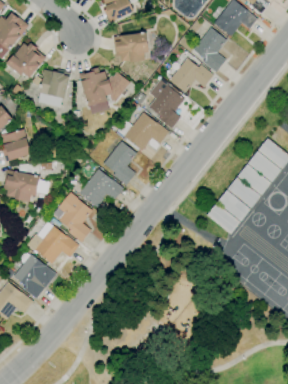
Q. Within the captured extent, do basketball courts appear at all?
Yes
